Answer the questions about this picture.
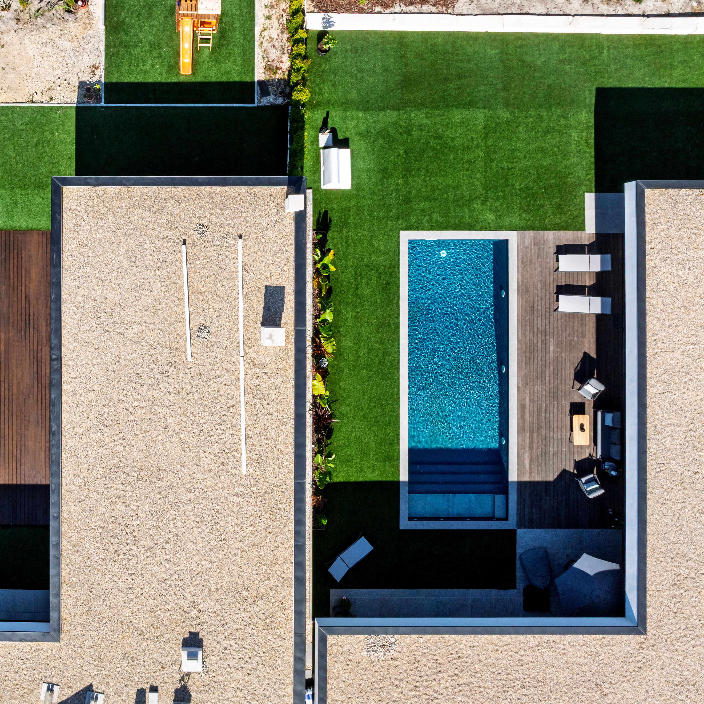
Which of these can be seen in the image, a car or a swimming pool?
swimming pool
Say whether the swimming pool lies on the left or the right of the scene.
right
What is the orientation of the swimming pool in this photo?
vertically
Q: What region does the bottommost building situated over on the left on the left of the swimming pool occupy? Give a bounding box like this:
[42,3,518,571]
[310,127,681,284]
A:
[0,176,306,704]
